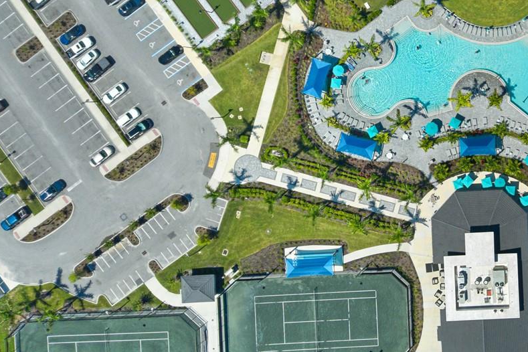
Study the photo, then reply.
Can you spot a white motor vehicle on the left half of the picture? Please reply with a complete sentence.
Yes, a white motor vehicle appears on the left half of the picture.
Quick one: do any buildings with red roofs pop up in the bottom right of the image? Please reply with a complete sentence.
No, I can find no building with a red roof in the bottom right of the image.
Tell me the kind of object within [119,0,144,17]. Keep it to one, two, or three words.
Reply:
car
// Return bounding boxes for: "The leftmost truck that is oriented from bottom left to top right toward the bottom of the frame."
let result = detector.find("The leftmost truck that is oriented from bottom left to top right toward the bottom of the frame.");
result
[1,205,32,230]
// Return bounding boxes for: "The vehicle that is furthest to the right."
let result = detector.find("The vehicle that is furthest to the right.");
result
[158,45,183,66]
